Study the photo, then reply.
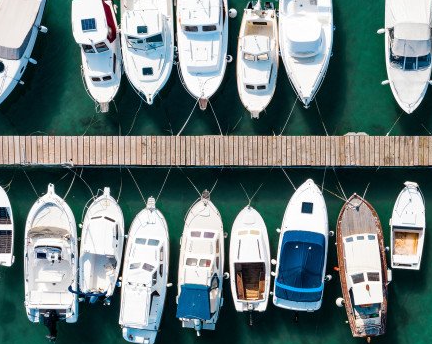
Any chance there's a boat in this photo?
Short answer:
Yes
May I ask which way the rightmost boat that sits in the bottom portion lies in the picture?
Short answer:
up and down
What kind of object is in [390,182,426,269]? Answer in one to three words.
boat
